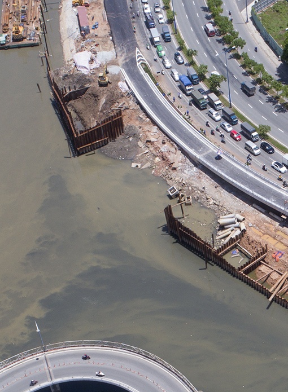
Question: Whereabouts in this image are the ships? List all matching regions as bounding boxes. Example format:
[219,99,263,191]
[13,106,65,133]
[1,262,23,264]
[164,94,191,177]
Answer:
[0,0,43,51]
